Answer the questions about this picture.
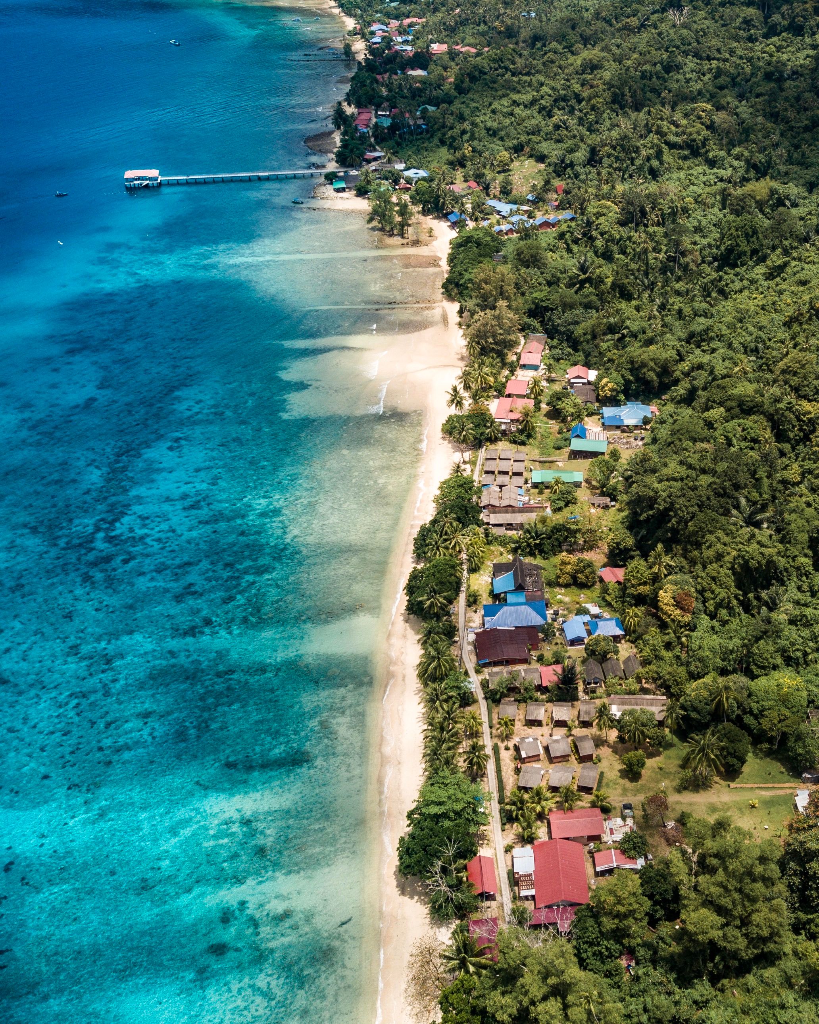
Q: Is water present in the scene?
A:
Yes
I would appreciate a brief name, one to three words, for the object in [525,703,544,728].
house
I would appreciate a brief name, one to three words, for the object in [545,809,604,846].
house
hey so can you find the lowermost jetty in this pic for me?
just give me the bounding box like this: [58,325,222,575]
[160,168,334,185]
